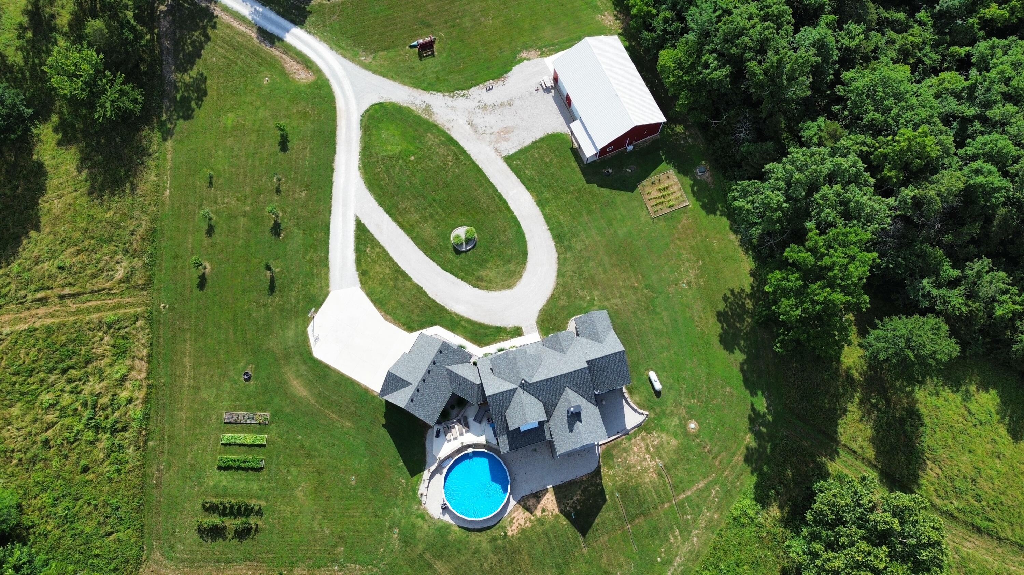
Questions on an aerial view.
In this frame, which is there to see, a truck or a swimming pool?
swimming pool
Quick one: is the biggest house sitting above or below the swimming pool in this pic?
above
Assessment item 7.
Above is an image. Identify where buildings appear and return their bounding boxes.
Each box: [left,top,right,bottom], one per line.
[552,35,666,168]
[379,310,631,458]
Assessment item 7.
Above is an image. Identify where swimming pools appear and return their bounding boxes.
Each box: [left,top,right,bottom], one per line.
[442,450,511,522]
